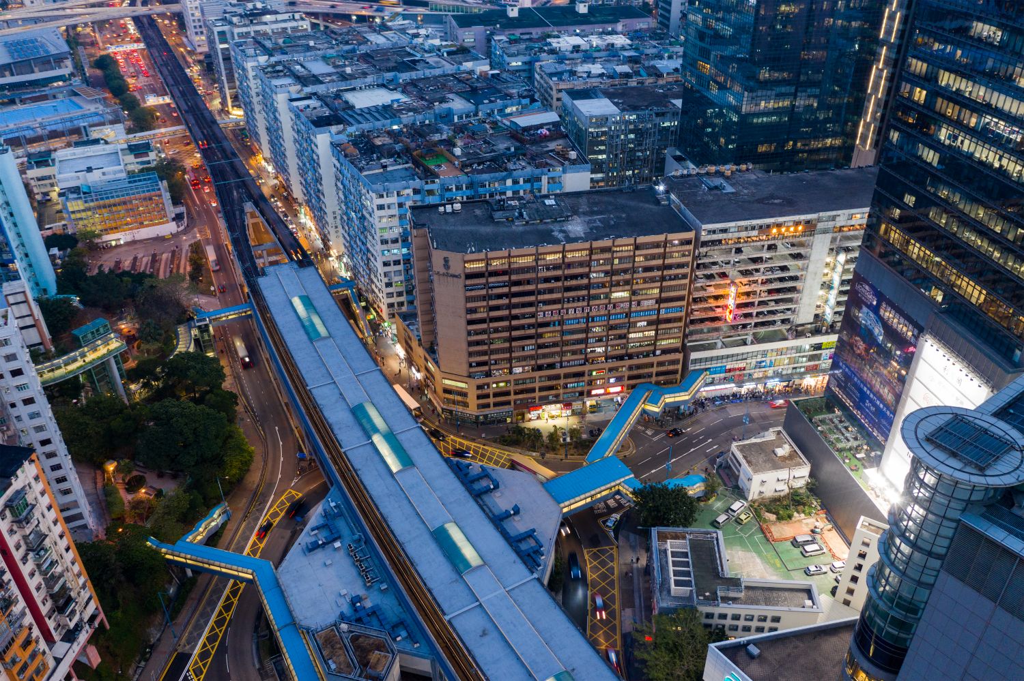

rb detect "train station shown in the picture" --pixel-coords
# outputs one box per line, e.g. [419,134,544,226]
[247,265,625,681]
